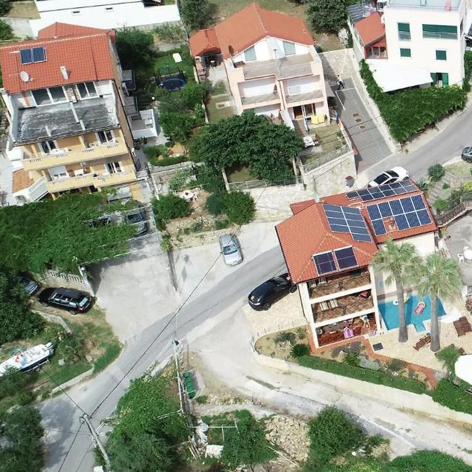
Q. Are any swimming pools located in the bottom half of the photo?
Yes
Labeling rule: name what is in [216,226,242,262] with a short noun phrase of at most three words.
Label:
car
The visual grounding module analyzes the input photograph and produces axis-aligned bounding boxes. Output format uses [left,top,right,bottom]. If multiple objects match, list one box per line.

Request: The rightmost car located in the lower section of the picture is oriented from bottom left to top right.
[243,265,295,305]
